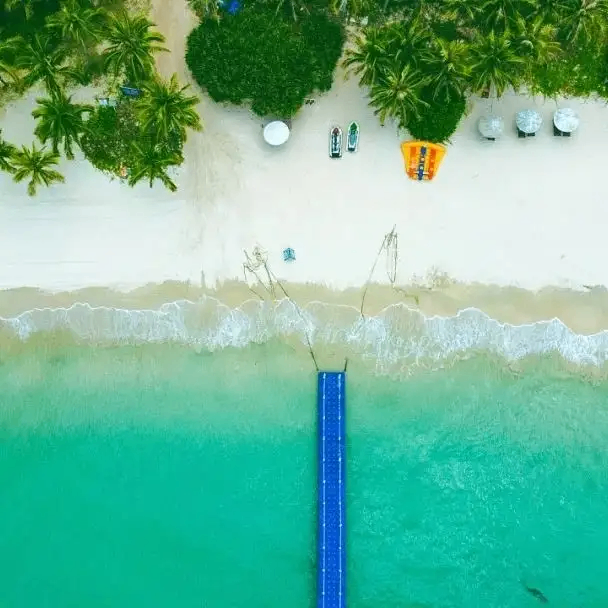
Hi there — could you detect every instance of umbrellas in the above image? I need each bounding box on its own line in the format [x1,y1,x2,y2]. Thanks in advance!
[264,119,290,146]
[554,107,580,132]
[479,114,504,140]
[517,108,542,134]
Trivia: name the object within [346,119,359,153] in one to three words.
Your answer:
boat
